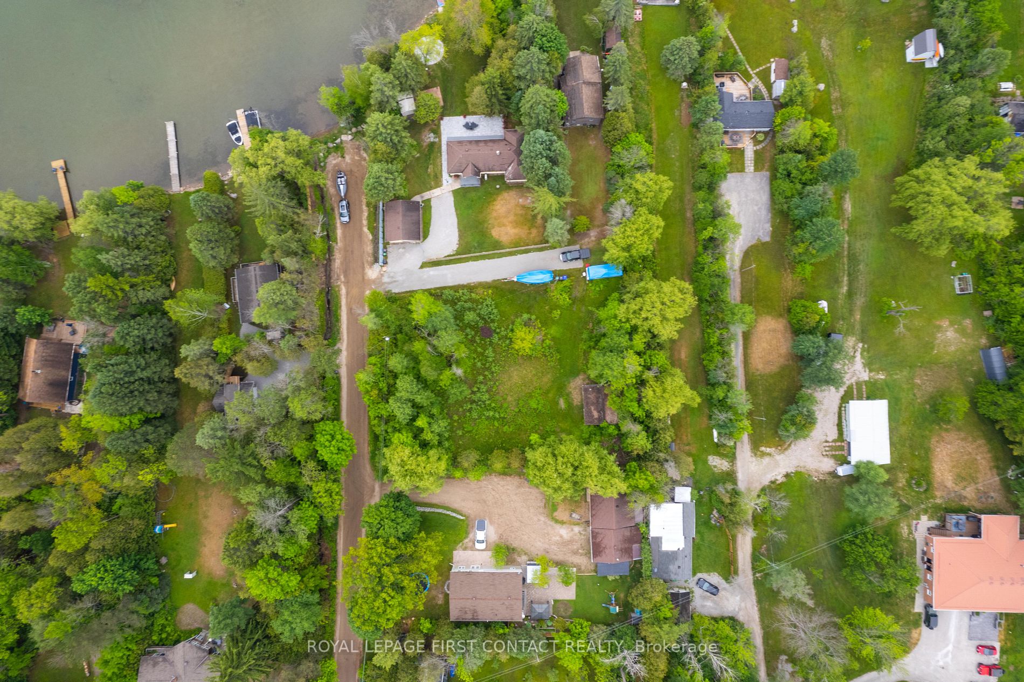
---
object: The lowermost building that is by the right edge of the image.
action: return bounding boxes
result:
[923,513,1024,613]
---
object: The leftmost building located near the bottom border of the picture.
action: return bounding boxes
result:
[138,642,222,682]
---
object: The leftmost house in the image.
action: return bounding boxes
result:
[17,338,81,403]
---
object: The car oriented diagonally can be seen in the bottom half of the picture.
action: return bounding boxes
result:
[695,577,720,596]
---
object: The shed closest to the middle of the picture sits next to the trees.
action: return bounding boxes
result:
[583,384,618,425]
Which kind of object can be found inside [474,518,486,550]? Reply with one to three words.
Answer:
vehicle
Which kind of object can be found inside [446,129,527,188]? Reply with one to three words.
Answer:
house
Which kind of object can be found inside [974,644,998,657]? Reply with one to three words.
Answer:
vehicle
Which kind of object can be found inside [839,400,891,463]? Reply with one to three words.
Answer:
barn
